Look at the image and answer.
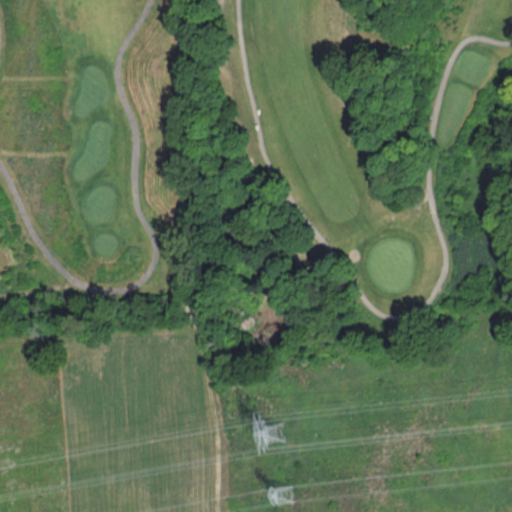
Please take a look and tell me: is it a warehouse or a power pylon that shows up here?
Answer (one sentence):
Looking from above, you can make out a power pylon.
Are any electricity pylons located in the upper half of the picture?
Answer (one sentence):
No, looking in the upper half of the picture, there is no electricity pylon.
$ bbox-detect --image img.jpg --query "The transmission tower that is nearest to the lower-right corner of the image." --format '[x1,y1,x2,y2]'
[268,486,294,508]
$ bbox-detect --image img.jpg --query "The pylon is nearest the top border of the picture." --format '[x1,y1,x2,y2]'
[253,418,286,458]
